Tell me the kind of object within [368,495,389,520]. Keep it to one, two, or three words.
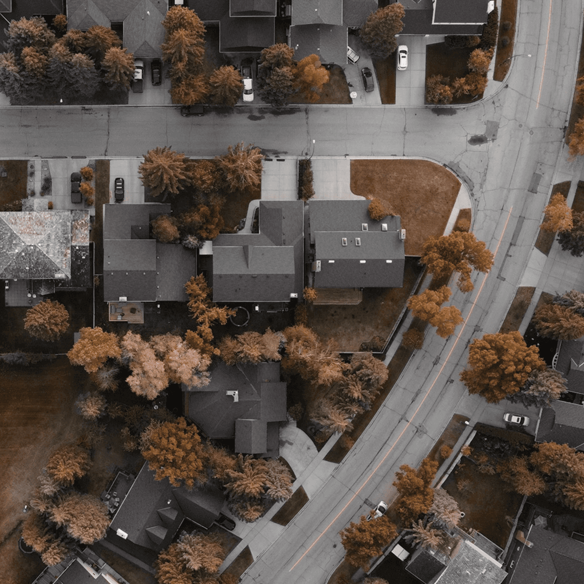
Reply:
car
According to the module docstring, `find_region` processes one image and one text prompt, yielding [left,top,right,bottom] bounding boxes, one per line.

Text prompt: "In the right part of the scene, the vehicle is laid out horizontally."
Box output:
[500,413,528,426]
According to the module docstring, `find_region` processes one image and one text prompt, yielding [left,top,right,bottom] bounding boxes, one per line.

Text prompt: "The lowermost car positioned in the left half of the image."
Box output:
[217,513,236,529]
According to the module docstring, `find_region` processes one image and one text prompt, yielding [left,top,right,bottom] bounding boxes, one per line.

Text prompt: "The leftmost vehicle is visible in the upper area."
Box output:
[69,172,82,204]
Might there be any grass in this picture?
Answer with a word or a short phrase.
Yes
